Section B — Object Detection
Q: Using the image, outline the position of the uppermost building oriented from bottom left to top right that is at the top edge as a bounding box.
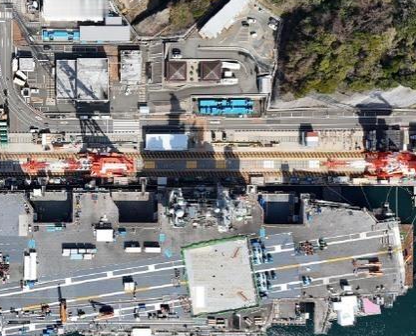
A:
[197,0,249,41]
